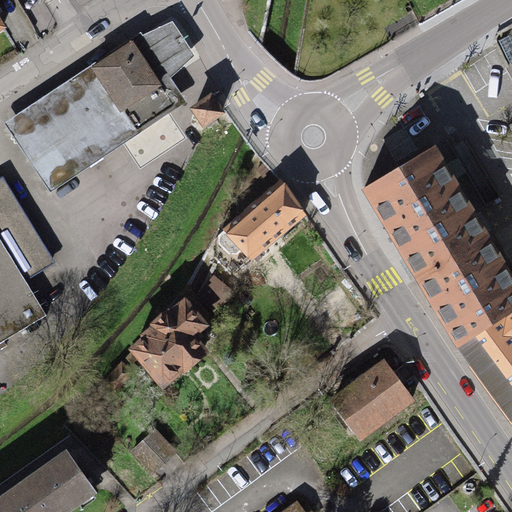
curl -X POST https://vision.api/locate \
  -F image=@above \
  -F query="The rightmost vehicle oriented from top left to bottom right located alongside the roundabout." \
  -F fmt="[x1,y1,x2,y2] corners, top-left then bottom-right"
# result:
[308,190,330,215]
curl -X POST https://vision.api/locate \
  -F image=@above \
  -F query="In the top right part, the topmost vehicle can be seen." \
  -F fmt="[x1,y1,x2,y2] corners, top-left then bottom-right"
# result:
[488,68,501,98]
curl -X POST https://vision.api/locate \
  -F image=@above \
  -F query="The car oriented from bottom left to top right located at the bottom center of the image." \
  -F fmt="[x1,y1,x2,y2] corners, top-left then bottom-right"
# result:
[264,492,287,511]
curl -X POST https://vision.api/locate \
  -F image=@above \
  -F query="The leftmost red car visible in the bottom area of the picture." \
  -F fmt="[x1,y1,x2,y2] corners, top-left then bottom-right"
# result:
[414,360,432,380]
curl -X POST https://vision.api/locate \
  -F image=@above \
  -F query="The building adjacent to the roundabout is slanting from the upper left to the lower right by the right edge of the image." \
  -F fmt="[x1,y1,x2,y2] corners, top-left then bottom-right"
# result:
[364,146,512,348]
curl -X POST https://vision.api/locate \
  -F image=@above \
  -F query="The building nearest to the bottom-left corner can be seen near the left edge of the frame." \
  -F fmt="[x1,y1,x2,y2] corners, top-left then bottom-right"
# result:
[0,450,96,512]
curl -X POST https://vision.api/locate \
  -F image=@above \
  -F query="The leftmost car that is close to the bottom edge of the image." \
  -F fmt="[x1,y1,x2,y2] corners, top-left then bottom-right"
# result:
[228,467,249,488]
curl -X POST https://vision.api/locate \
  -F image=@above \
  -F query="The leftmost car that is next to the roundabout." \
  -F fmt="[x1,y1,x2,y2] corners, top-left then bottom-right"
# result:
[251,108,267,130]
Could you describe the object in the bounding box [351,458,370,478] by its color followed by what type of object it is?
blue car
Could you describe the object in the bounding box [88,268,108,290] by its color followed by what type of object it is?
black car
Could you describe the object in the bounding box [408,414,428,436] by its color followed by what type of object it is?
black car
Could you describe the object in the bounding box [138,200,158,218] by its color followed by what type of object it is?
white car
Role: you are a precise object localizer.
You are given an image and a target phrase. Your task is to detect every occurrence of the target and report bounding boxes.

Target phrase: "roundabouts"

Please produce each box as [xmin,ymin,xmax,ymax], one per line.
[268,92,358,182]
